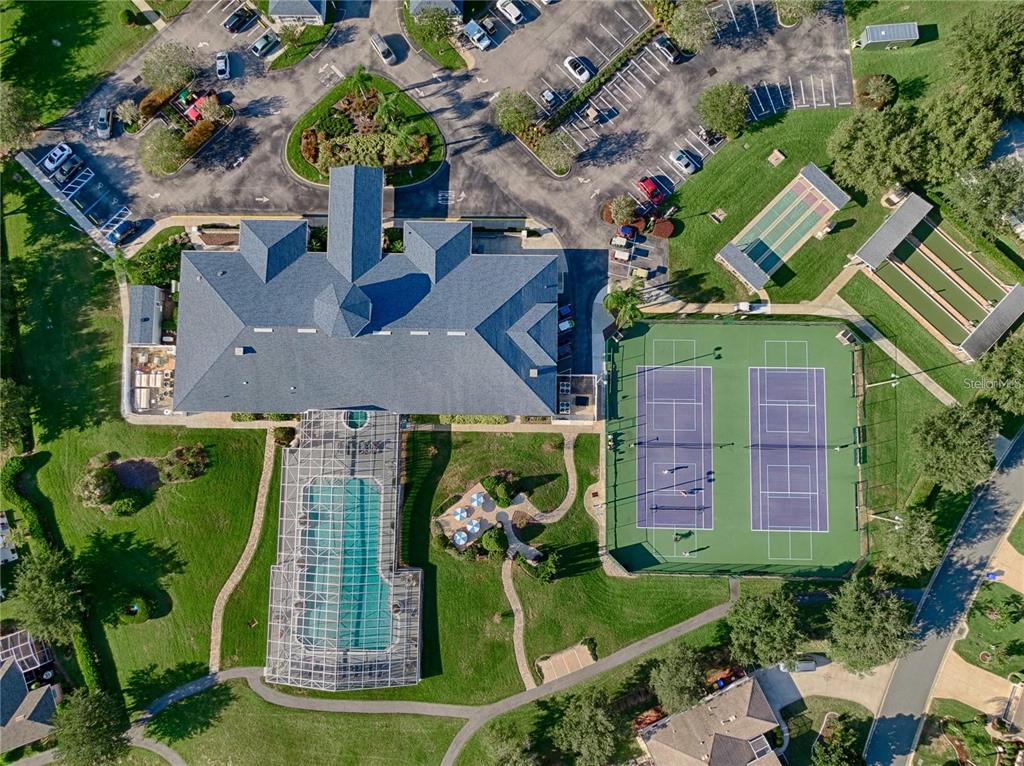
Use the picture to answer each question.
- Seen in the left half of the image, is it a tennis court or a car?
car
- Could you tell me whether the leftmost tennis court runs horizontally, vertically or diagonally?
vertically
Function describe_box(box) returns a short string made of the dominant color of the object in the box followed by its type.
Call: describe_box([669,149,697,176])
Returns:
white car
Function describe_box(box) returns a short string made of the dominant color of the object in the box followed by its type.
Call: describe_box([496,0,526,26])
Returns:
white car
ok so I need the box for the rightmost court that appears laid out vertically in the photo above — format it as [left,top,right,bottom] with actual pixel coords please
[750,341,828,559]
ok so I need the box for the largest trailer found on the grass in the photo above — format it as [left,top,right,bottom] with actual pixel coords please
[848,22,919,49]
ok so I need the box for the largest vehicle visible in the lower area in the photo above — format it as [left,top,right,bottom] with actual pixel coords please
[780,658,817,675]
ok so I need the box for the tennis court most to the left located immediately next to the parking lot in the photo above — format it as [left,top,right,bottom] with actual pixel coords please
[637,339,714,557]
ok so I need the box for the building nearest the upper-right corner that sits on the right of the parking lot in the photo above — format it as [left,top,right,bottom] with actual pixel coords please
[996,211,1024,257]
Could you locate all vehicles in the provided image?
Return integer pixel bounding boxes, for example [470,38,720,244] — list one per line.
[583,106,599,125]
[636,175,666,206]
[732,302,750,313]
[96,108,113,139]
[780,658,817,675]
[250,30,281,58]
[222,4,255,33]
[483,19,498,39]
[541,89,556,108]
[562,55,591,85]
[669,149,697,176]
[496,0,526,26]
[612,250,630,262]
[55,153,84,185]
[616,225,634,238]
[107,219,138,245]
[43,142,72,172]
[609,237,626,249]
[215,50,230,81]
[654,34,681,64]
[630,268,648,277]
[463,18,492,49]
[700,127,709,138]
[558,320,575,333]
[558,305,573,318]
[368,29,399,66]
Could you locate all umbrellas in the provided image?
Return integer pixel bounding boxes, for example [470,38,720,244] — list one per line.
[470,493,484,507]
[454,531,468,545]
[466,519,480,533]
[453,507,467,521]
